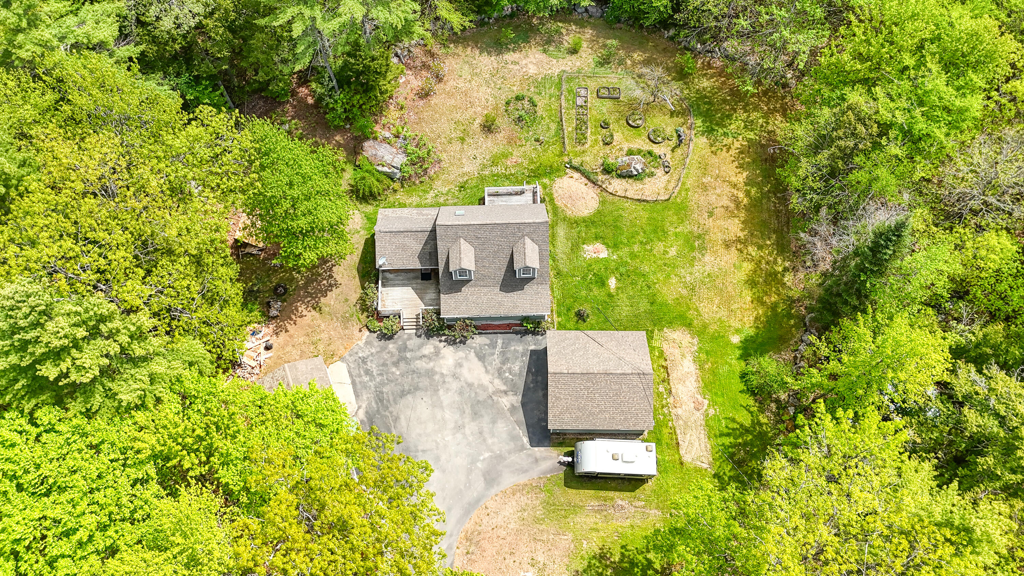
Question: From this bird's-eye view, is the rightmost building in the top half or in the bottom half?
bottom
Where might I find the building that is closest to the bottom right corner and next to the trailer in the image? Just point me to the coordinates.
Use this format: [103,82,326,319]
[546,330,654,434]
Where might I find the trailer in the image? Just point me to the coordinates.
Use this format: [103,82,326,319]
[557,439,658,481]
